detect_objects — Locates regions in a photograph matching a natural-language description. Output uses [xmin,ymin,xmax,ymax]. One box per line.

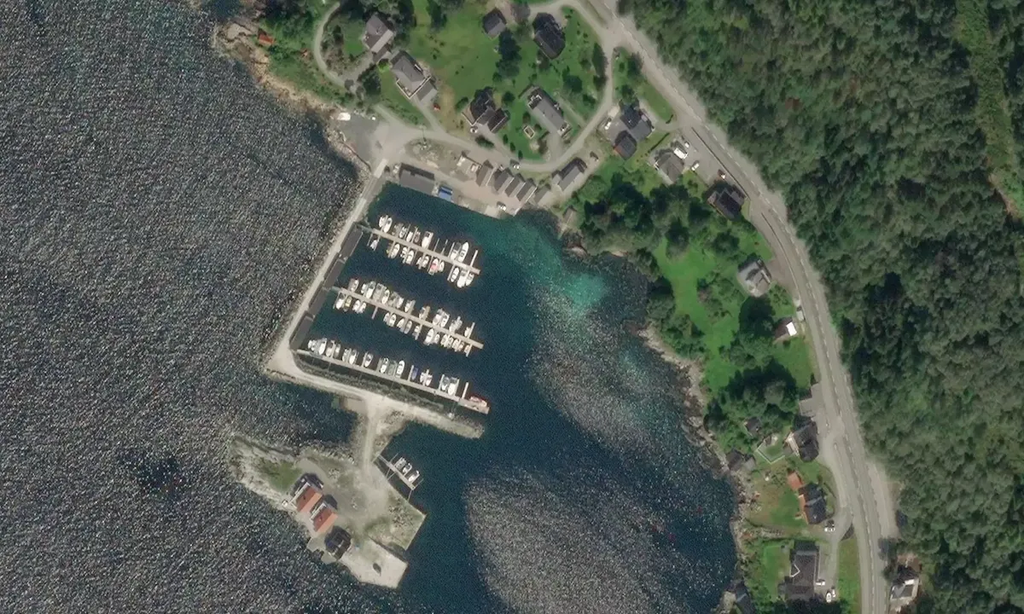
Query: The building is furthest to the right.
[890,578,919,603]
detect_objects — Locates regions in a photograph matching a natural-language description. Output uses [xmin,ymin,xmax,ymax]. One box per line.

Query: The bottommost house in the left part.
[324,530,351,560]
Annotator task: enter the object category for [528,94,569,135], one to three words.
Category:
house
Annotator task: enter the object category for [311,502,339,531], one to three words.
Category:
house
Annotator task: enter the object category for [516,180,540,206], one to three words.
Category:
building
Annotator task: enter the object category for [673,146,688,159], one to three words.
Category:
vehicle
